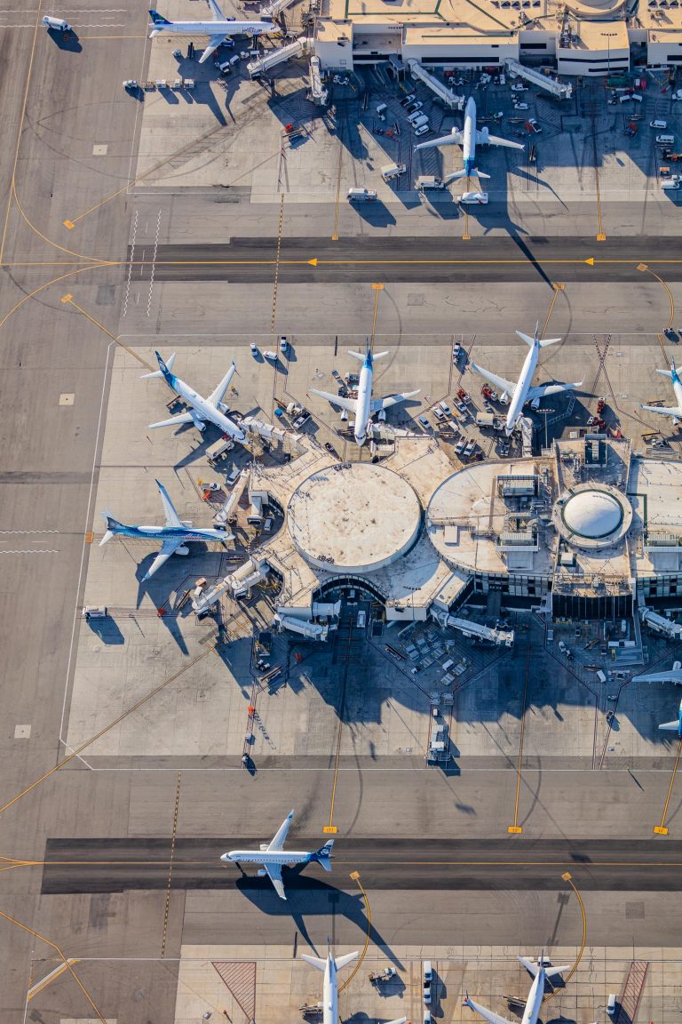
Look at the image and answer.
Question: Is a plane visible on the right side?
Yes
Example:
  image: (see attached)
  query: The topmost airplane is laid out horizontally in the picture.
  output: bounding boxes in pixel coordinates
[147,0,280,64]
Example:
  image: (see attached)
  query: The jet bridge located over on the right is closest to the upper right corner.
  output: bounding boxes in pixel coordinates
[503,57,579,101]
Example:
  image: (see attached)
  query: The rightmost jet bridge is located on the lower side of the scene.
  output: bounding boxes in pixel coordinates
[632,604,682,647]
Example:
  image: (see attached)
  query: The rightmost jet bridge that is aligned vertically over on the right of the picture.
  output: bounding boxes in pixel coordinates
[514,412,536,459]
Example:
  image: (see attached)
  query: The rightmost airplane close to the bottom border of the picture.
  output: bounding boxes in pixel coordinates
[471,938,601,1024]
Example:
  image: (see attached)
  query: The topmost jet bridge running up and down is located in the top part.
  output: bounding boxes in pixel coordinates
[309,54,333,114]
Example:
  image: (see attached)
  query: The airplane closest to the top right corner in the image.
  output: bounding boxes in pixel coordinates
[415,99,524,173]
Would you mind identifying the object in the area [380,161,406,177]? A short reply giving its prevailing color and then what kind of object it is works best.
white vehicle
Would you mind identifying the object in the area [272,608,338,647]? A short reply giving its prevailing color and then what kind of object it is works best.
blue jet bridge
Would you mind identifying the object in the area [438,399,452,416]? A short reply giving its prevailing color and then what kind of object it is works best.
white vehicle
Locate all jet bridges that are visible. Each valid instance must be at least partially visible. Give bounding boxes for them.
[514,412,536,459]
[309,54,333,114]
[360,421,437,443]
[309,600,354,623]
[632,604,682,647]
[503,57,579,101]
[204,462,253,530]
[412,58,469,113]
[248,491,266,535]
[184,551,258,623]
[272,608,338,647]
[241,37,315,85]
[425,605,520,649]
[240,410,308,452]
[224,563,275,606]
